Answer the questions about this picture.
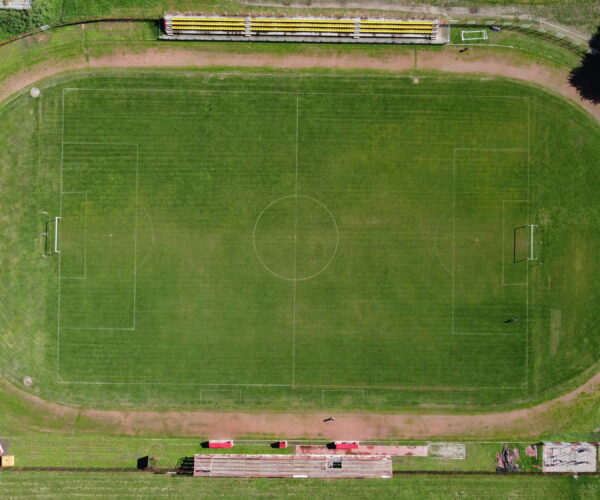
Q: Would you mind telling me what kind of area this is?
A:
sports ground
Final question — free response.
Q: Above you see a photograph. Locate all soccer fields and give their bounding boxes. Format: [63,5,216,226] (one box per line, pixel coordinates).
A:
[43,79,550,405]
